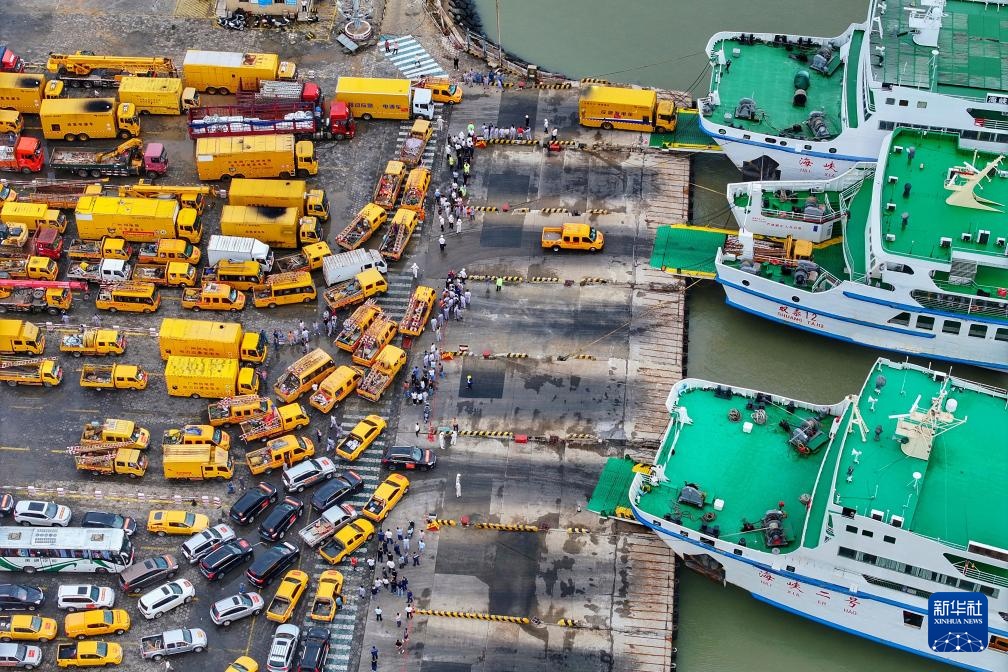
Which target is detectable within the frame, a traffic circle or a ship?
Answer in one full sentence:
There is a ship in the scene.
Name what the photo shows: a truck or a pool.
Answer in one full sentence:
This aerial view contains a truck.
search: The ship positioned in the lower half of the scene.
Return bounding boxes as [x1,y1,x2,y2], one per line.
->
[588,355,1008,672]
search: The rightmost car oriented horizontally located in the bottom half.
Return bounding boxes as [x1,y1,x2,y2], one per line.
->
[382,445,439,474]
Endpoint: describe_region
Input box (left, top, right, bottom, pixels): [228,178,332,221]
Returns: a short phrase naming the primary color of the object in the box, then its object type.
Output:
yellow truck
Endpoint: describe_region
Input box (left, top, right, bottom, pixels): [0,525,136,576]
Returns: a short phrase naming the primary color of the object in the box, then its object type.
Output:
white bus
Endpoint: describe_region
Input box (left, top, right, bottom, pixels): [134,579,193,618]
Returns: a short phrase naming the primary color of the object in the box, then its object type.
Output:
white car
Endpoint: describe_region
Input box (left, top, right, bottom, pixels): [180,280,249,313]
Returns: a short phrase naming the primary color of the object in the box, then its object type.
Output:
orange van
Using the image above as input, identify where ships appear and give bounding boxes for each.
[588,355,1008,672]
[651,0,1008,184]
[650,127,1008,385]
